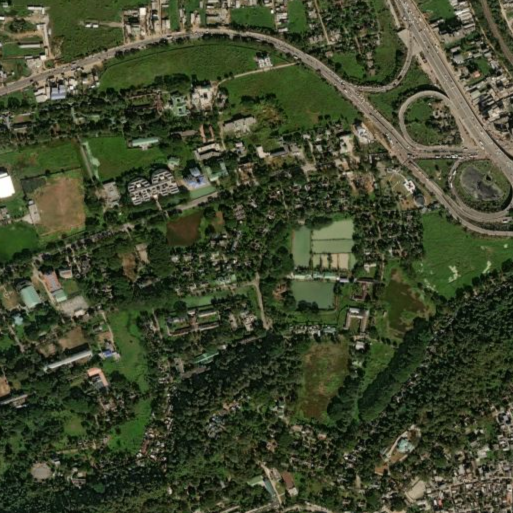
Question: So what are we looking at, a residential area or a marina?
residential area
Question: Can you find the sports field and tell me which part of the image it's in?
left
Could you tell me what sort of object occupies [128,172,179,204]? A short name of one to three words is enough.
building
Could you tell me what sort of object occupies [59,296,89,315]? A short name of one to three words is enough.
building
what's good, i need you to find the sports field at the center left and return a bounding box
[38,175,85,236]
